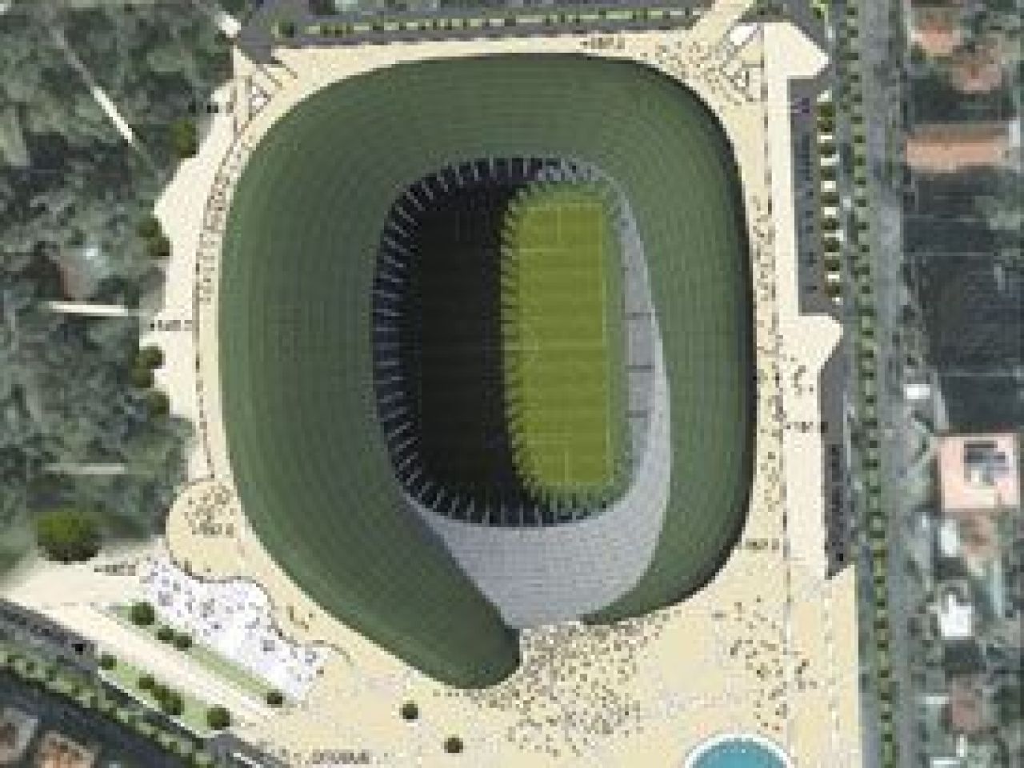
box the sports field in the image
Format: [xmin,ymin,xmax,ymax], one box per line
[422,204,614,483]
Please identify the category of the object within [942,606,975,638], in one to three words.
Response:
house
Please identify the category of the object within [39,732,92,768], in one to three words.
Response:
house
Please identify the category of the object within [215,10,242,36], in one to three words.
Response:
building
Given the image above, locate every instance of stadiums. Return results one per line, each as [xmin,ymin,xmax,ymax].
[218,50,758,691]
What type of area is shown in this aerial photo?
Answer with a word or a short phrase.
sports ground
